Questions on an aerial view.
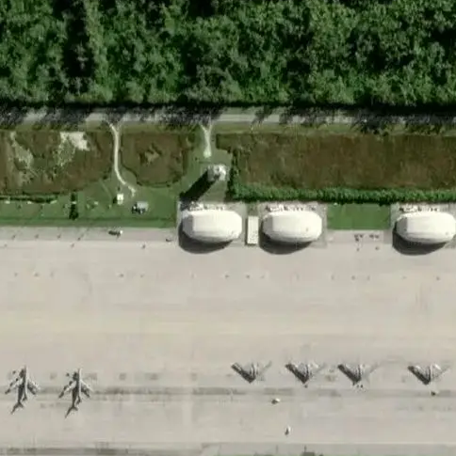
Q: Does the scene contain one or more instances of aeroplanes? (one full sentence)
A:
Yes, you can see an aeroplane in this photo.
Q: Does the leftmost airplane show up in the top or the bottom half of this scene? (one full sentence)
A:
The leftmost airplane is in the bottom half of the image.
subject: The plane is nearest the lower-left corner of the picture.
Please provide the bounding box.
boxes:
[10,367,43,399]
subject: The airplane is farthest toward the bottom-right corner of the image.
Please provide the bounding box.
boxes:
[410,363,449,382]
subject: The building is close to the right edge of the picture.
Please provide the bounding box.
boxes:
[395,214,455,245]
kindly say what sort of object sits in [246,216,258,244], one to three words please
building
